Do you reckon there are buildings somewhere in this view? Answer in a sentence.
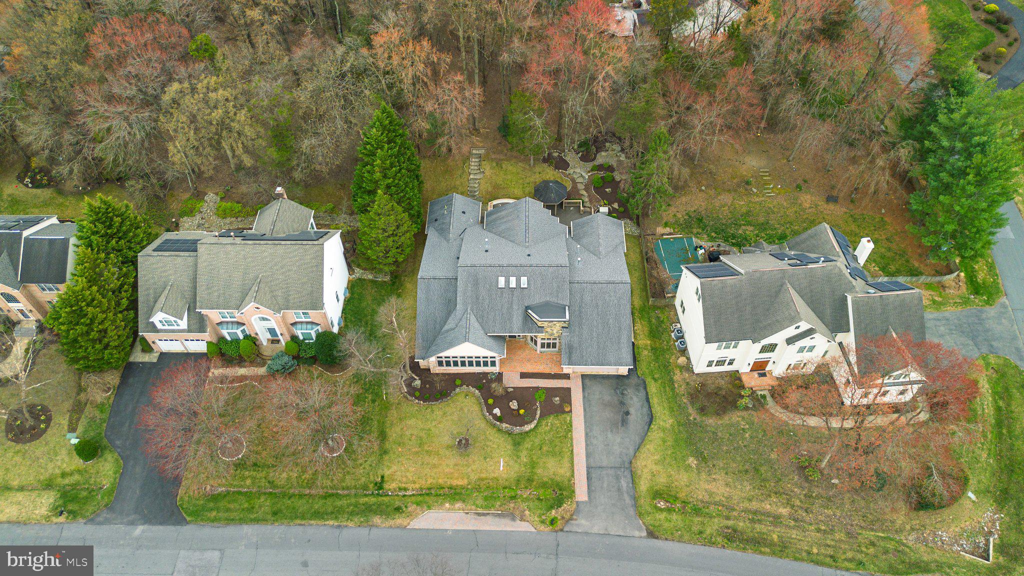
Yes, a building can be made out from above.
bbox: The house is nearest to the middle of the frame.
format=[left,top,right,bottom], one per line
[414,193,634,377]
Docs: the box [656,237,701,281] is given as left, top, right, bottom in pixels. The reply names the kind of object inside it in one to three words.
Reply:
sports court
